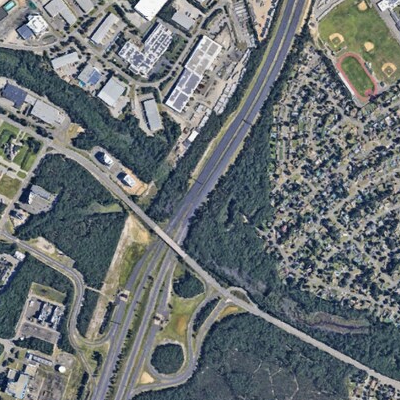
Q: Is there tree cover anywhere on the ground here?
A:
Yes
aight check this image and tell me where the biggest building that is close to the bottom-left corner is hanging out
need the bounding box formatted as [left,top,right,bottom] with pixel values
[6,375,29,399]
